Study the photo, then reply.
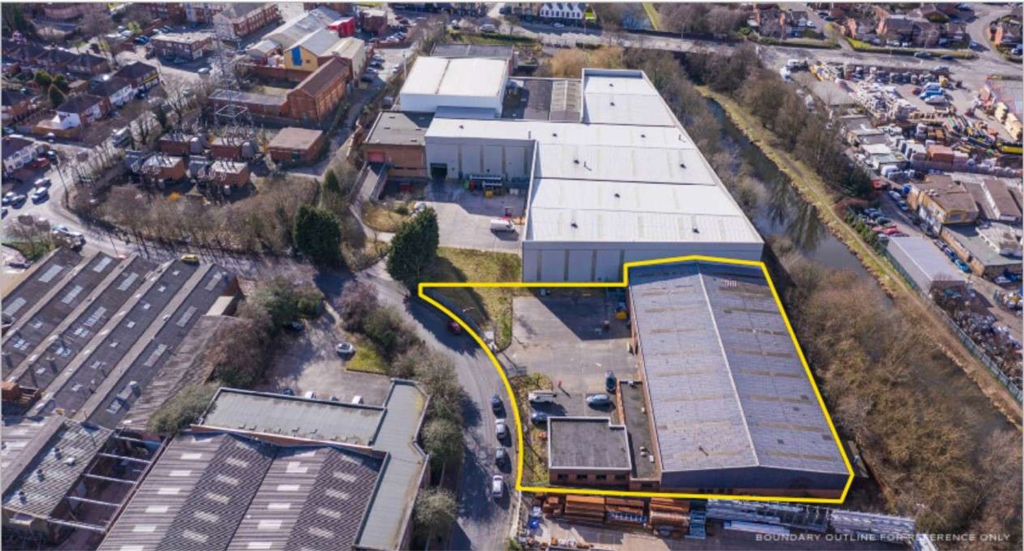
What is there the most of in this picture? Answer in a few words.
buildings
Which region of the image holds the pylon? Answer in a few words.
top left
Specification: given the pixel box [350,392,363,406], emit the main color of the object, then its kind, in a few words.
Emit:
white vehicle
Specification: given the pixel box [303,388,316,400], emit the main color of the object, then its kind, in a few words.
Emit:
white vehicle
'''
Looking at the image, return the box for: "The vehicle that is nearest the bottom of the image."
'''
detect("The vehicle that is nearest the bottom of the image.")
[490,471,505,497]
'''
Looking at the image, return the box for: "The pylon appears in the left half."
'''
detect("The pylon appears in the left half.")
[173,0,255,139]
